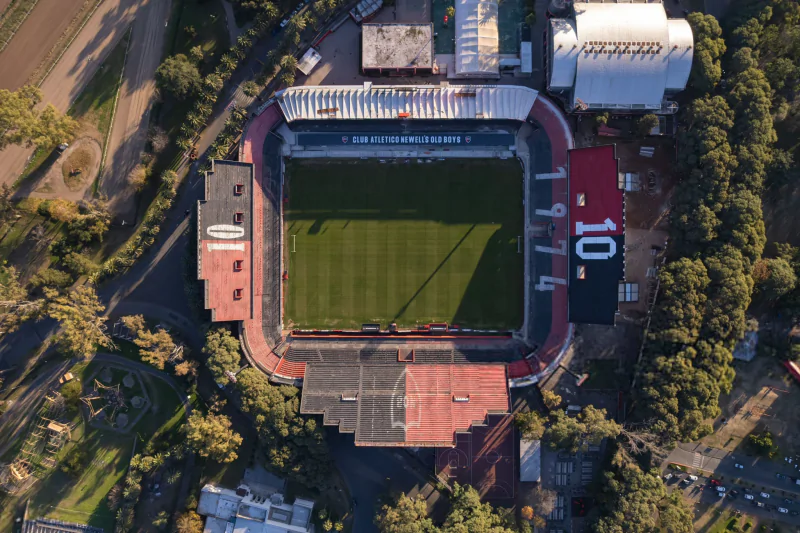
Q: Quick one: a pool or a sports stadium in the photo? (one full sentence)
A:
Looking from above, you can make out a sports stadium.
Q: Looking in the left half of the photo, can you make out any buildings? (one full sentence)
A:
Yes, looking in the left half of the photo, one can make out a building.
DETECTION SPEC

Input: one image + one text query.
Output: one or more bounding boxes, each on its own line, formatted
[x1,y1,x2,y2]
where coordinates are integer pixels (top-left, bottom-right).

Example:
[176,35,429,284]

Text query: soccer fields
[283,156,524,333]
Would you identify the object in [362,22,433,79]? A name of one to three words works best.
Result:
building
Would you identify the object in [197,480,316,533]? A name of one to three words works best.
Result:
house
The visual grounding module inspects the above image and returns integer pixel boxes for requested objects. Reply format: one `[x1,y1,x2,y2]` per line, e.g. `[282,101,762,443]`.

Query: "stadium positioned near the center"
[197,81,639,447]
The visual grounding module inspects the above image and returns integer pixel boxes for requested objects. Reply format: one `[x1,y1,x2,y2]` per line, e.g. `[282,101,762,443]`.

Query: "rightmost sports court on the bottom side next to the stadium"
[470,400,517,502]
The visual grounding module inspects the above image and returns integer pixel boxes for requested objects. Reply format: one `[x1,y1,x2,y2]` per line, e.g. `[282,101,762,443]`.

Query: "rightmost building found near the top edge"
[542,0,695,118]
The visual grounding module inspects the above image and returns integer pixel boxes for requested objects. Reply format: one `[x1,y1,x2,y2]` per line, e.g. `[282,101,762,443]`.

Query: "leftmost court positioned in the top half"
[433,0,454,54]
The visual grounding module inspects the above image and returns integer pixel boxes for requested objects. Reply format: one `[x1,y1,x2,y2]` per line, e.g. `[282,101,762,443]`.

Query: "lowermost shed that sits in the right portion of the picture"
[518,437,540,481]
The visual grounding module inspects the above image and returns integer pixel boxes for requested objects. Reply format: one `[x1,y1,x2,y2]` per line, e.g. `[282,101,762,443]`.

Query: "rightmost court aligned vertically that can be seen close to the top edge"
[498,0,521,54]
